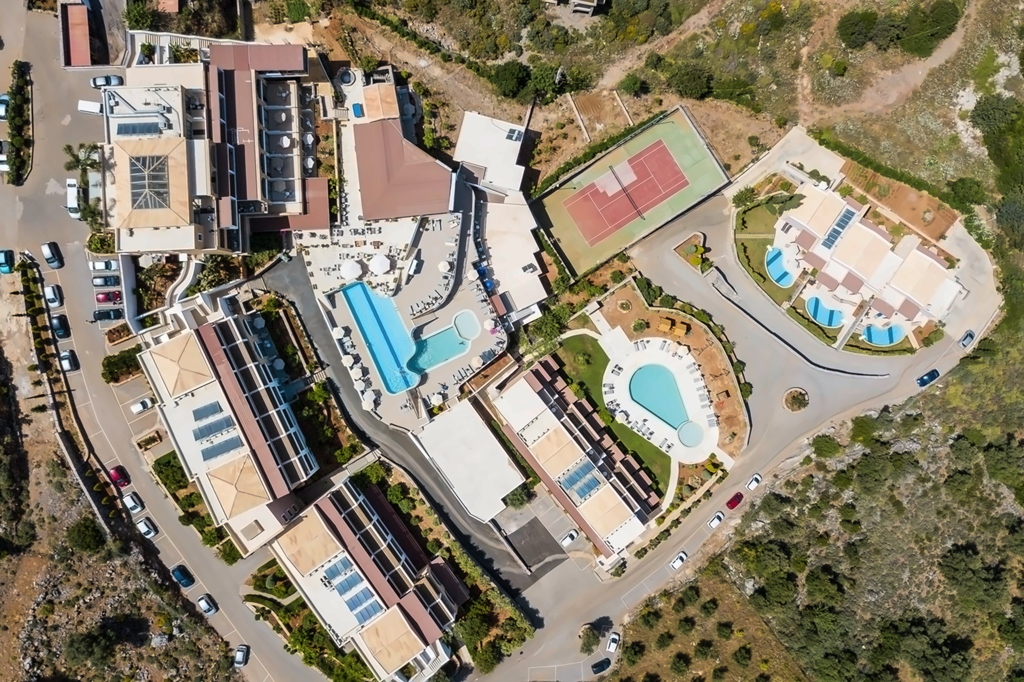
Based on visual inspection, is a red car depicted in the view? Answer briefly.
Yes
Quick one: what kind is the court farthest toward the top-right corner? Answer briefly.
tennis court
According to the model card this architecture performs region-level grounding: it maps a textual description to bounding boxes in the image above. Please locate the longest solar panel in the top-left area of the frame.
[117,123,160,135]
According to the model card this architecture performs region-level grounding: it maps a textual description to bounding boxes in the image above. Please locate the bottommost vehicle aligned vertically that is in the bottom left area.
[234,645,248,670]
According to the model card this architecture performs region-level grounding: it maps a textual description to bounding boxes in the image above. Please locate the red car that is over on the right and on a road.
[727,492,744,512]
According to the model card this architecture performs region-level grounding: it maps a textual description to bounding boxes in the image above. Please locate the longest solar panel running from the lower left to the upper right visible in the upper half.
[821,208,856,249]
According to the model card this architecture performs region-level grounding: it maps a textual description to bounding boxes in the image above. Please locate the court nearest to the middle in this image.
[533,107,729,277]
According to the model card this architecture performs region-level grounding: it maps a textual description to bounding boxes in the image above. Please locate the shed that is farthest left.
[67,5,101,68]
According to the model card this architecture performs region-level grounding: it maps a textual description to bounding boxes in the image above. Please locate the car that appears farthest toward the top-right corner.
[959,328,977,348]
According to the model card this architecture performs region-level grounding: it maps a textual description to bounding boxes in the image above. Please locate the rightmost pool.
[862,323,906,347]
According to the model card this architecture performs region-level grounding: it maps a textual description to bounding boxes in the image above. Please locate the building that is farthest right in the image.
[866,245,962,321]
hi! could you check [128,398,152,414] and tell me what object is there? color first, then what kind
white car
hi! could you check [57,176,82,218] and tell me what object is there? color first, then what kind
white vehicle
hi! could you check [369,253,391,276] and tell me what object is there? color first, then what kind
white umbrella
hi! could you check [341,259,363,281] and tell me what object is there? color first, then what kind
white umbrella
